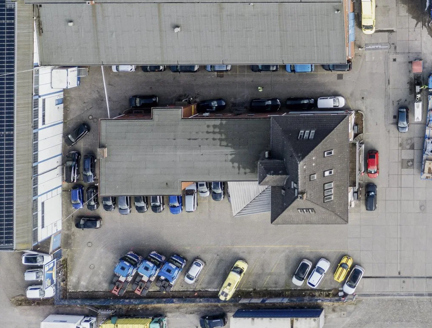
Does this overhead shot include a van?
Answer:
Yes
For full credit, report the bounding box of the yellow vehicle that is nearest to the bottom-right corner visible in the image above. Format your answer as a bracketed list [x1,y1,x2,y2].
[333,255,354,284]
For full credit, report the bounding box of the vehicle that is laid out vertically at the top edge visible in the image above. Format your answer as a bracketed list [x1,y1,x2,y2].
[361,0,377,33]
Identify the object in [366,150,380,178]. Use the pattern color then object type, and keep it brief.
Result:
red vehicle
